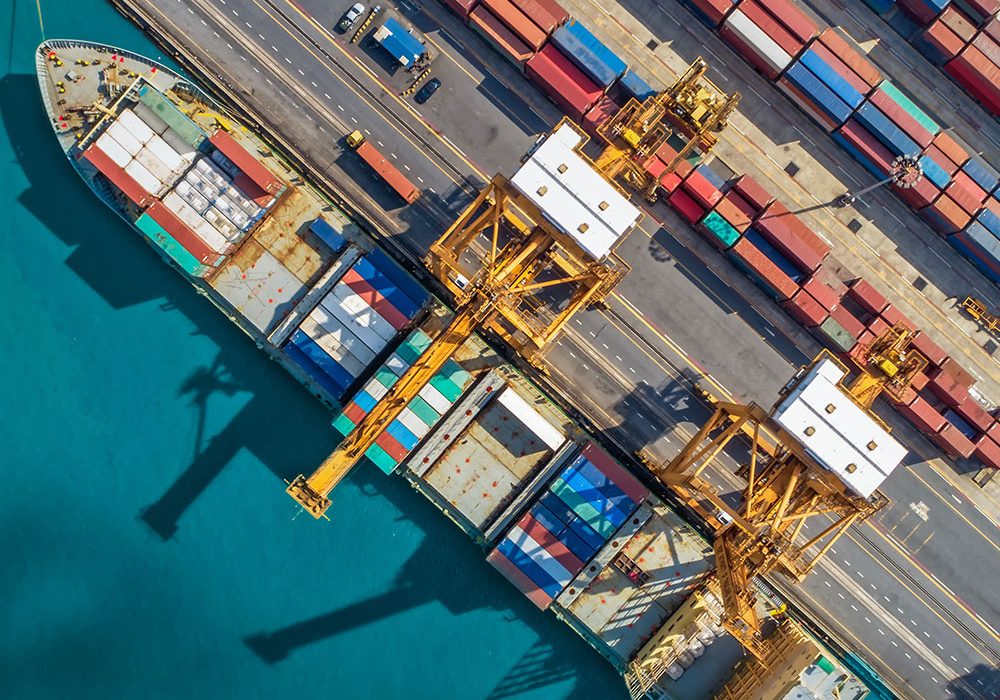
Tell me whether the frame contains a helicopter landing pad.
No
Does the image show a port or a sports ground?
port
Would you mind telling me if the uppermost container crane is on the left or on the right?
right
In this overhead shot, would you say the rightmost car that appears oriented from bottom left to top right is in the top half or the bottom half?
top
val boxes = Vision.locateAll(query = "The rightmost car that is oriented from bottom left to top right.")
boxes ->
[414,77,440,103]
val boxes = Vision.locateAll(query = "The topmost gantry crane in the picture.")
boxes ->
[621,56,752,206]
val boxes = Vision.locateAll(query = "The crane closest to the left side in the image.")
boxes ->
[287,88,678,520]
